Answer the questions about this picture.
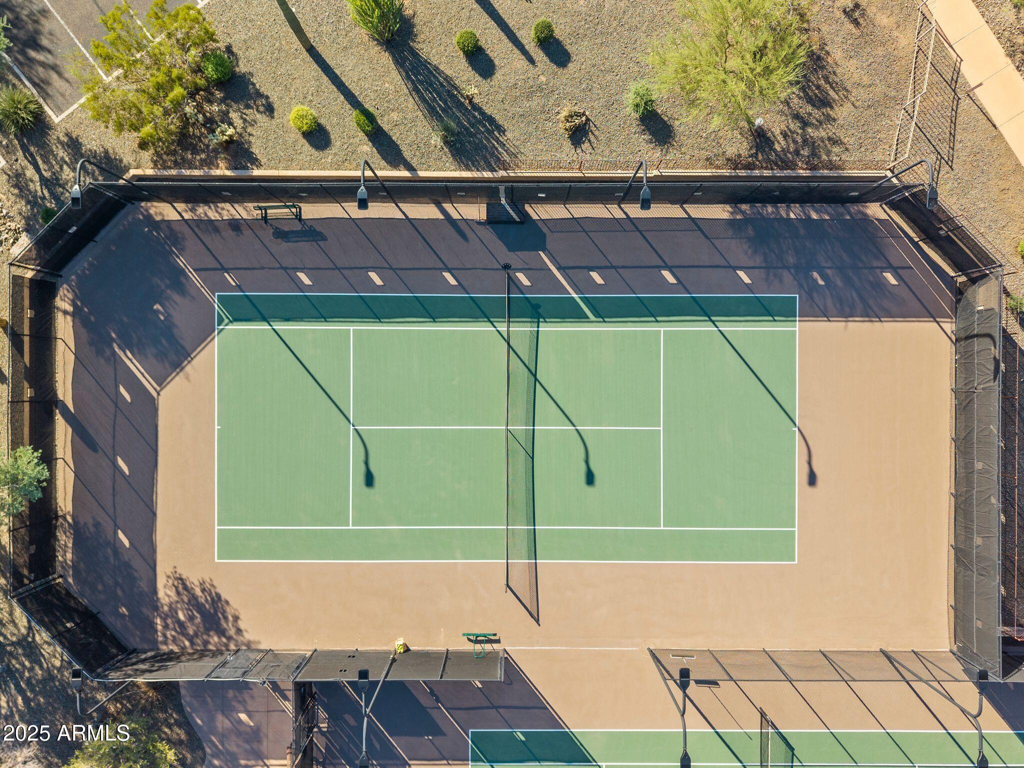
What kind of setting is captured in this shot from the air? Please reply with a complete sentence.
This image shows a sports ground.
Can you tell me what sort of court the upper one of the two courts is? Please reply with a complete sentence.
The upper one of the two courts is a tennis court.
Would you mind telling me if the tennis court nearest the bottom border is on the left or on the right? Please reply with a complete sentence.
You can find the tennis court nearest the bottom border on the right side of the picture.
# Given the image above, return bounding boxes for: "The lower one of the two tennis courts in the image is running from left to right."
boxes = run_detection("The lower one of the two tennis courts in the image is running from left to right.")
[313,649,1024,768]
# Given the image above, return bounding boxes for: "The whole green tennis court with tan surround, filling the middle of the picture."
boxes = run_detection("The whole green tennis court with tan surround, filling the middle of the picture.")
[56,199,957,652]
